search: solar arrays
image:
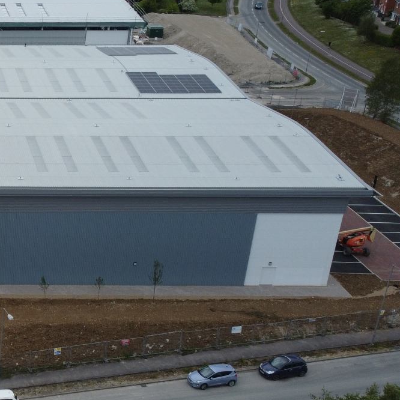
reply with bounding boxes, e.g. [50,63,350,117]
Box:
[100,47,175,54]
[121,72,221,93]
